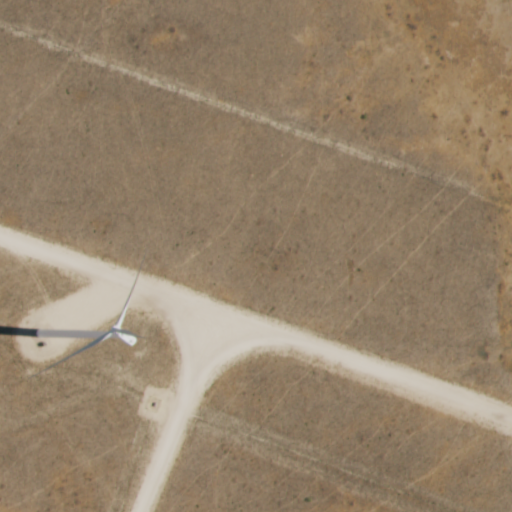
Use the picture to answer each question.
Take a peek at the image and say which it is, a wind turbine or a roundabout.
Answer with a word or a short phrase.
wind turbine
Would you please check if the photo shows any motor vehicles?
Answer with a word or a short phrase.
No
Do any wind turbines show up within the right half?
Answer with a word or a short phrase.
No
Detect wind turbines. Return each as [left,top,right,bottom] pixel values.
[33,254,156,381]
